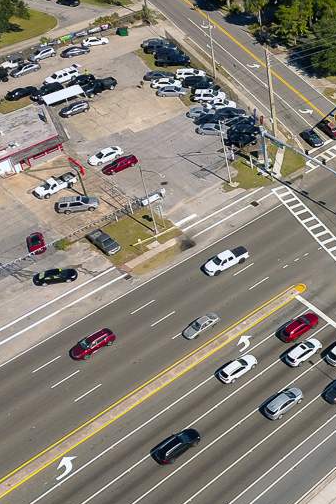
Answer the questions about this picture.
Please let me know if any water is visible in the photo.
No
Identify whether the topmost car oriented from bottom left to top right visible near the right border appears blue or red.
red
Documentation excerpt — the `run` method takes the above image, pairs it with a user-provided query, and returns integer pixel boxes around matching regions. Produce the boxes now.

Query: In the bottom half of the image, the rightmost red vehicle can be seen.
[280,313,321,345]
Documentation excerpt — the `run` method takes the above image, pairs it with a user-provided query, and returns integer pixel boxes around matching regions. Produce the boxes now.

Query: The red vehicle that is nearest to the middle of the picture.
[103,155,137,175]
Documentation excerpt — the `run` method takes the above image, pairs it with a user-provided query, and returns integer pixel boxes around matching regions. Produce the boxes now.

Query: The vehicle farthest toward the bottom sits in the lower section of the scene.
[151,426,201,468]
